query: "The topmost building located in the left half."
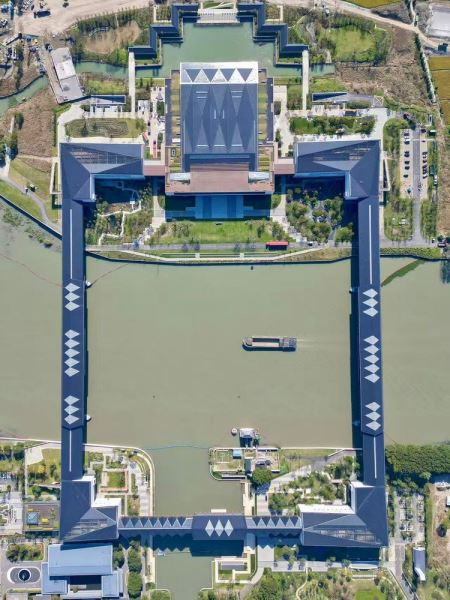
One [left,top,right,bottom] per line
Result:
[128,3,200,59]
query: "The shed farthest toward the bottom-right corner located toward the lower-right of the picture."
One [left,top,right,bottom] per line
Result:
[412,546,425,581]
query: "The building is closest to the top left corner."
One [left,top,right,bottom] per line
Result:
[51,46,86,106]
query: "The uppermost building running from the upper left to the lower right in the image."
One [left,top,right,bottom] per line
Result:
[237,3,309,56]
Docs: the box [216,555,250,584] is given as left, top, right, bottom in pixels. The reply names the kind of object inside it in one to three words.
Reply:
building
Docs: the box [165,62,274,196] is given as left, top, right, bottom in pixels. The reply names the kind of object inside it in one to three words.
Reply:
building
